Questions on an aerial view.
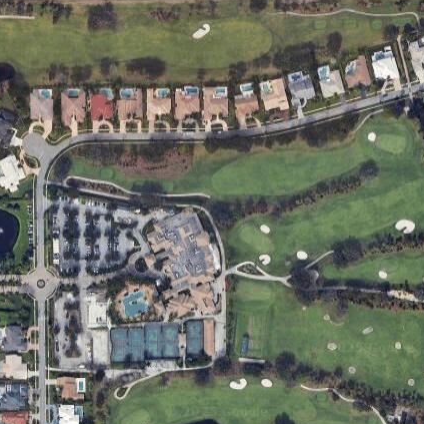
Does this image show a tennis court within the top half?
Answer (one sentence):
No, the scene shows no tennis court within the top half.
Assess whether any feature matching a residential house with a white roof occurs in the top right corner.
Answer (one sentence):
Yes, a residential house with a white roof shows up in the top right corner.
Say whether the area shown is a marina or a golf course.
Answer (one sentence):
The area seen from above is a golf course.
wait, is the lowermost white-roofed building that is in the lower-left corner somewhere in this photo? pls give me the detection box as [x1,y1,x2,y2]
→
[59,404,80,424]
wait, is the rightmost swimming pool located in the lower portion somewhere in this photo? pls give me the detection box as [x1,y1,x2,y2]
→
[123,290,149,318]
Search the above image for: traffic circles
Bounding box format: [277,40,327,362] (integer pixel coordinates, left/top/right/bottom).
[23,265,62,302]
